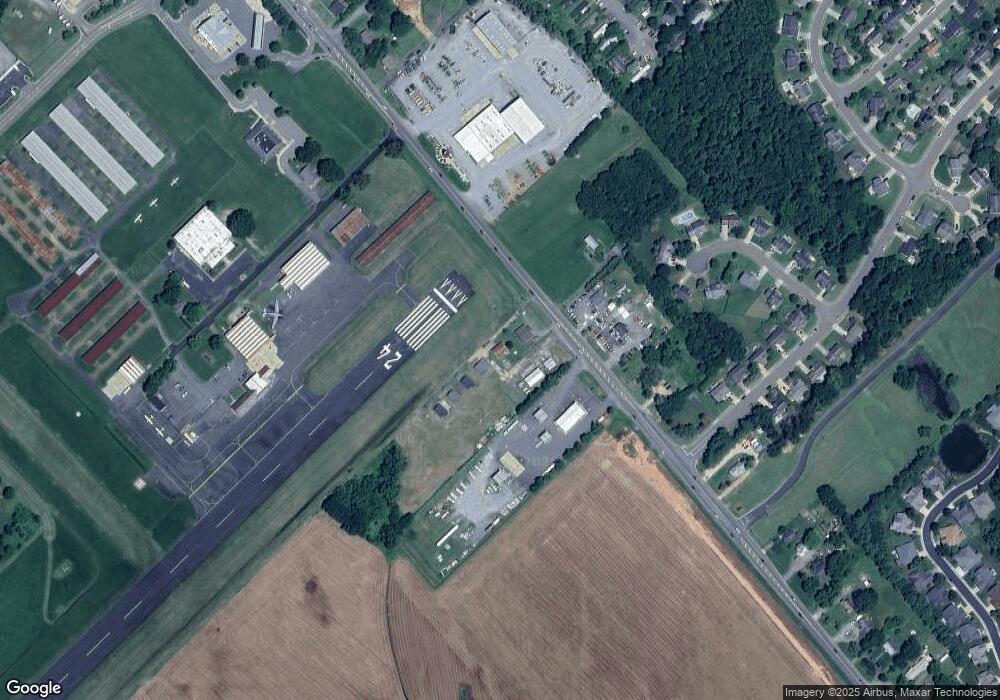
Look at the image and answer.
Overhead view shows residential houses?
Yes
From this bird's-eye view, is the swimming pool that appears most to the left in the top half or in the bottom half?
top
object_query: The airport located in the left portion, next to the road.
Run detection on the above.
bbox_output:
[16,185,479,700]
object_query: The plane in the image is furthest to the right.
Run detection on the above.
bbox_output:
[265,299,283,329]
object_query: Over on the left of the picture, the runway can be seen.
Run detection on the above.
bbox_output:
[16,269,479,700]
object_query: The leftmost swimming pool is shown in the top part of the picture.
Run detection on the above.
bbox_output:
[672,208,695,227]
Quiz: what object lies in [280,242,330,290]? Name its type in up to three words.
hangar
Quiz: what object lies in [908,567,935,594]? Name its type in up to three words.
house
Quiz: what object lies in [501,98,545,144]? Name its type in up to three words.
building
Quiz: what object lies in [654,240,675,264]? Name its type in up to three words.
house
